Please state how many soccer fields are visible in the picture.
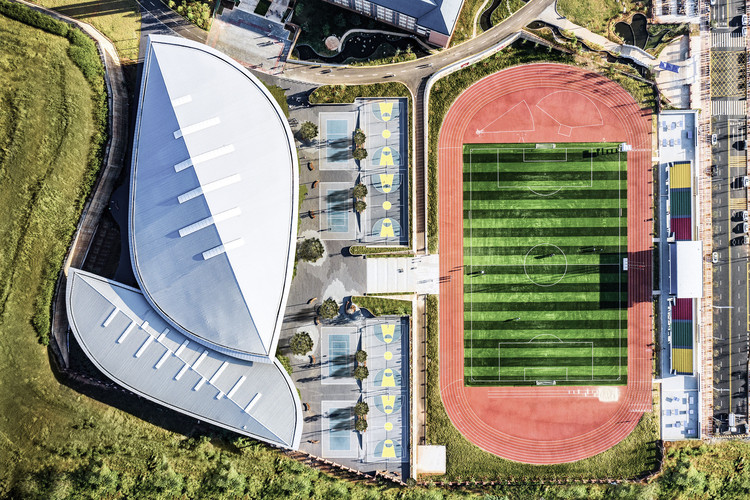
1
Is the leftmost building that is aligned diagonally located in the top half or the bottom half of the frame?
bottom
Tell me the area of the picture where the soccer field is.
right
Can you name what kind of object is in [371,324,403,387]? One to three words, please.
basketball court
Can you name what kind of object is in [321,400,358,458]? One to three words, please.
sports court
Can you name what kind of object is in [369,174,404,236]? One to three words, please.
basketball court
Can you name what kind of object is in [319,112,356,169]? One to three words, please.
sports court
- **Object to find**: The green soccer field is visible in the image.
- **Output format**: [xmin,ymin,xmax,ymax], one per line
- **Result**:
[464,143,628,387]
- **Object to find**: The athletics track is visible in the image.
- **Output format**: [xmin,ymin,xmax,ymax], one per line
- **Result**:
[438,63,655,463]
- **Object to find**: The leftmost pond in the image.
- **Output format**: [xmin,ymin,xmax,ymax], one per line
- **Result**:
[295,34,417,62]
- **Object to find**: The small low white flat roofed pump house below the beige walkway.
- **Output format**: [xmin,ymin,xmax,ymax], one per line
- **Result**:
[417,445,447,473]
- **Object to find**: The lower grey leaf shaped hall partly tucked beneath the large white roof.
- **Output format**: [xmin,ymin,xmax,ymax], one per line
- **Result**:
[67,270,302,449]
